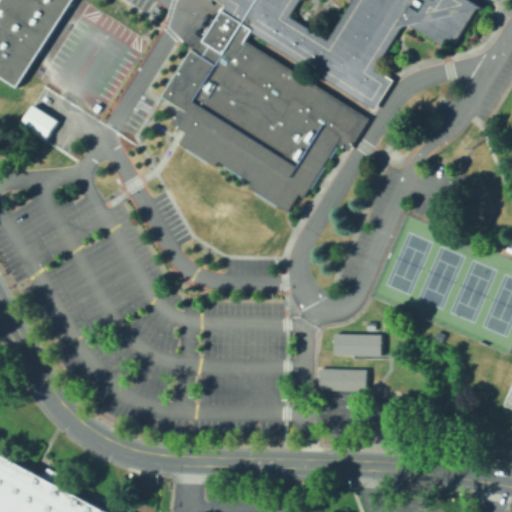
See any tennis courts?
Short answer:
Yes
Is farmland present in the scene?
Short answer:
No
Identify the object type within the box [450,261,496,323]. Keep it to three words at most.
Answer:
tennis court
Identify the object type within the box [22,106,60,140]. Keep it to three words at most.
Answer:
shed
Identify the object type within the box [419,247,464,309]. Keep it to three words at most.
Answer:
tennis court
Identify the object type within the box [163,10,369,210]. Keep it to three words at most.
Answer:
building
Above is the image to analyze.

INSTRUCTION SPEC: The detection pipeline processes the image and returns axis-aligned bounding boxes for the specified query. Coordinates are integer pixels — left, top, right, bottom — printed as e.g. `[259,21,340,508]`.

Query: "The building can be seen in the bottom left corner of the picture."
[0,454,106,512]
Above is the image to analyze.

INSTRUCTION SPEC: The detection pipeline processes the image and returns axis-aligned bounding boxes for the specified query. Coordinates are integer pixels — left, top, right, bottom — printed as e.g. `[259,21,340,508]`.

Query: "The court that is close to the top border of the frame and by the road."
[46,3,148,123]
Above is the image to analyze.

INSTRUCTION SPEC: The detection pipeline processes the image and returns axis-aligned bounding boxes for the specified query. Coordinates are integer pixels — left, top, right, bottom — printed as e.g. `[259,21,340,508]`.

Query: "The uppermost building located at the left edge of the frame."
[0,0,72,88]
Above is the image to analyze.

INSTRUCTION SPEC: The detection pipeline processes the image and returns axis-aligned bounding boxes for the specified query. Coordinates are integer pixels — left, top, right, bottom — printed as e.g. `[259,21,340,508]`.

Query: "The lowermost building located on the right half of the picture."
[318,368,368,391]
